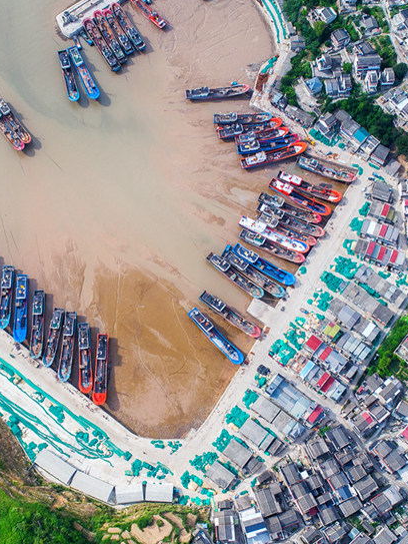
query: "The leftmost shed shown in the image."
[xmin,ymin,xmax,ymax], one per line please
[35,448,78,483]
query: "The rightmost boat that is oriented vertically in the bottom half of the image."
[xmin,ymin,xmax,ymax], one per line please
[95,333,109,404]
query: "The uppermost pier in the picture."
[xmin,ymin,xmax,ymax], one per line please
[57,0,131,41]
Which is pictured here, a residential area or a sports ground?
residential area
